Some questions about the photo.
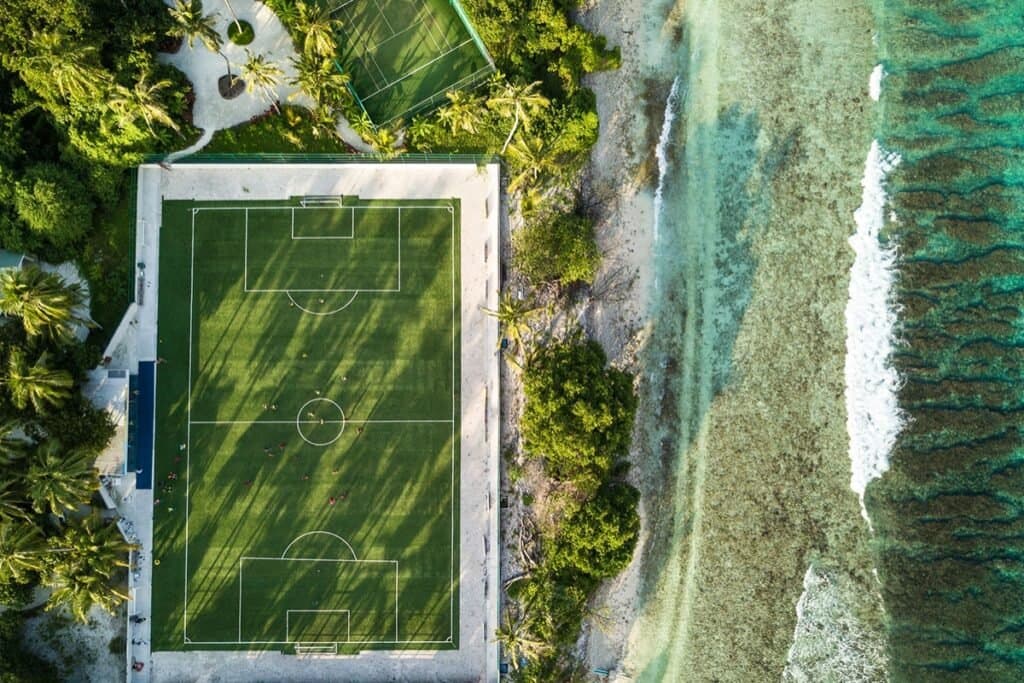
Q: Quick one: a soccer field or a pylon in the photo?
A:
soccer field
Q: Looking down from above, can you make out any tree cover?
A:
Yes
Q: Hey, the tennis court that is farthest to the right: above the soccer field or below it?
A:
above it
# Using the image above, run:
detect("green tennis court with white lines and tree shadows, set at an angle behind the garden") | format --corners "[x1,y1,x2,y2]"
[307,0,492,132]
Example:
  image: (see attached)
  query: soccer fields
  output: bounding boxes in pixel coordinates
[152,195,461,655]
